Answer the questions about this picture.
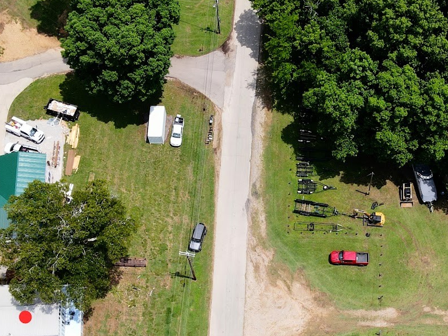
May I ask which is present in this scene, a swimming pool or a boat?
boat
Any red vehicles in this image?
Yes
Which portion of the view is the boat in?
right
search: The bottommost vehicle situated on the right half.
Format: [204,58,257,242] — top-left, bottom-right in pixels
[329,248,370,266]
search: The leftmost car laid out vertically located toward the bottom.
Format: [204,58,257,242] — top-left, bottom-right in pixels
[188,219,207,251]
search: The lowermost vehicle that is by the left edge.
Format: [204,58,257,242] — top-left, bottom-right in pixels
[3,140,42,152]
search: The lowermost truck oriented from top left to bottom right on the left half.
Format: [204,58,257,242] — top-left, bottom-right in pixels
[3,112,42,142]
